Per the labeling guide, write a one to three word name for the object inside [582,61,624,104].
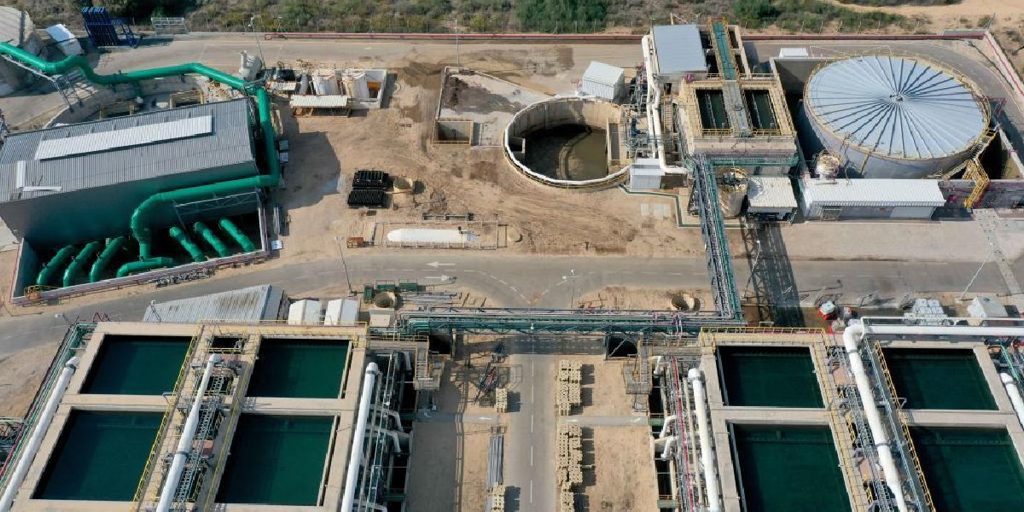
shed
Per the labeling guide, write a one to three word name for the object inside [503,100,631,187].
storage tank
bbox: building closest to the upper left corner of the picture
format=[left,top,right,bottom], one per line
[44,23,81,56]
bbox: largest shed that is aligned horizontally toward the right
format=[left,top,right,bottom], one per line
[796,181,944,224]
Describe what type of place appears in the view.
industrial area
